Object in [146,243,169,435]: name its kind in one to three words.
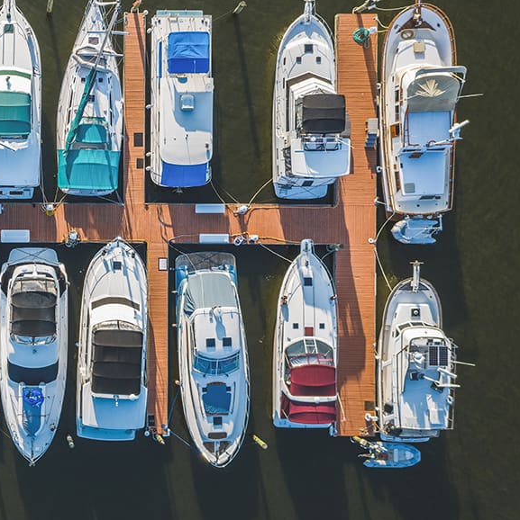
pier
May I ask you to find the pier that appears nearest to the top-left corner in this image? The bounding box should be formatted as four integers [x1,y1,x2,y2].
[122,11,146,203]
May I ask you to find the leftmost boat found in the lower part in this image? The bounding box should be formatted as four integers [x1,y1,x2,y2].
[0,248,69,469]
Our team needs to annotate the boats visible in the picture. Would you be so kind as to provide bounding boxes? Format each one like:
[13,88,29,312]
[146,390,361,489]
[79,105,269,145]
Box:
[378,0,483,215]
[56,0,138,197]
[358,441,422,470]
[270,0,352,198]
[77,235,149,441]
[150,10,214,195]
[271,238,345,429]
[0,0,43,198]
[391,216,443,246]
[0,248,69,469]
[175,252,251,471]
[372,261,475,443]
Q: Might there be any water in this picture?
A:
Yes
